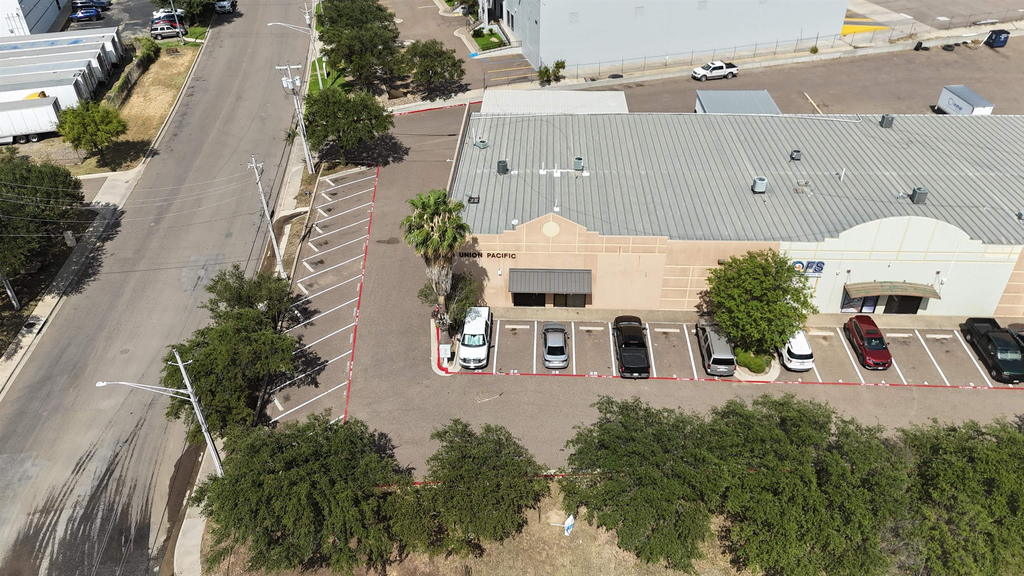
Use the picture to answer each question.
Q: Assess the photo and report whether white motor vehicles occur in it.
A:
Yes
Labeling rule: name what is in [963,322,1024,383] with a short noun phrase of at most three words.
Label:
truck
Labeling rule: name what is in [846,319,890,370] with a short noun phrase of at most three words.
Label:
car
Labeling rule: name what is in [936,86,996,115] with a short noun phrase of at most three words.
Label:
trailer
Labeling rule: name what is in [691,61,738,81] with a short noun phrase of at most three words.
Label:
vehicle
